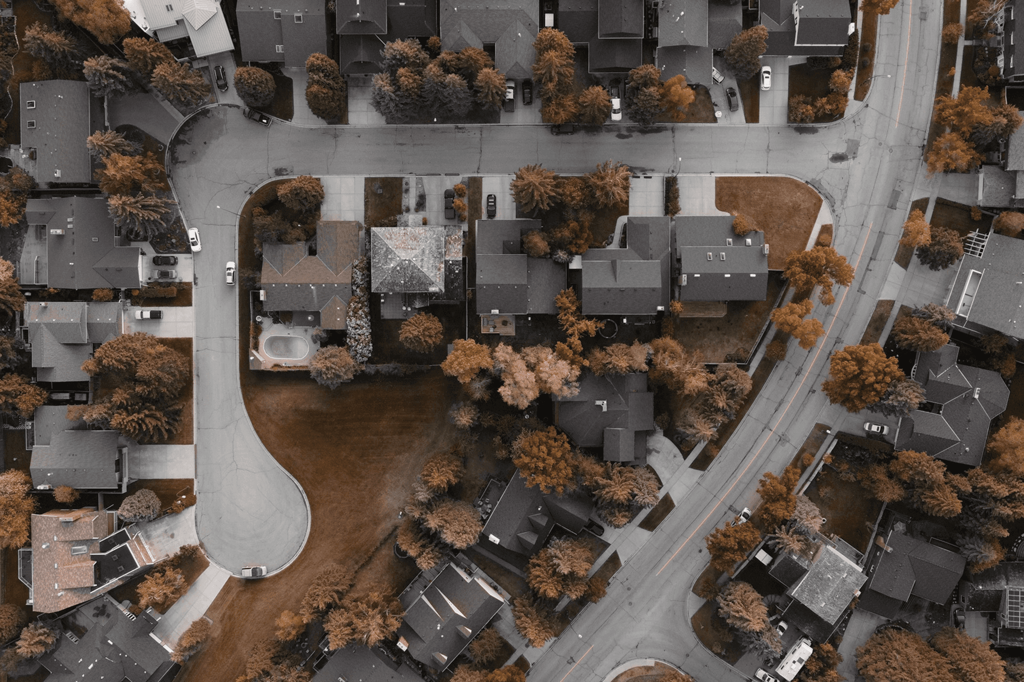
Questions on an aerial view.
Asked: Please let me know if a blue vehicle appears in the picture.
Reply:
No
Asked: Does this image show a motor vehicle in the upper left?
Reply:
Yes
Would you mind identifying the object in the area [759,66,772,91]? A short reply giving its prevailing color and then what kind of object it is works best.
white vehicle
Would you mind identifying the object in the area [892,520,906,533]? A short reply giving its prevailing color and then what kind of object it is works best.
gray umbrella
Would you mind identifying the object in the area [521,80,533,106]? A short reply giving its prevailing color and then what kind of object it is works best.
black vehicle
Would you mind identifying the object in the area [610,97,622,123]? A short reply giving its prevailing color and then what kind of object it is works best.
white vehicle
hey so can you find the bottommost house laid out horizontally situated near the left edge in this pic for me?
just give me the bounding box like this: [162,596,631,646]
[28,610,174,682]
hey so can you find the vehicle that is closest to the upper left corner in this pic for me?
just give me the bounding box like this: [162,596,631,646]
[213,65,230,92]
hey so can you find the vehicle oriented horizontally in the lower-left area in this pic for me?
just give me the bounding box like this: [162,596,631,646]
[241,566,269,578]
